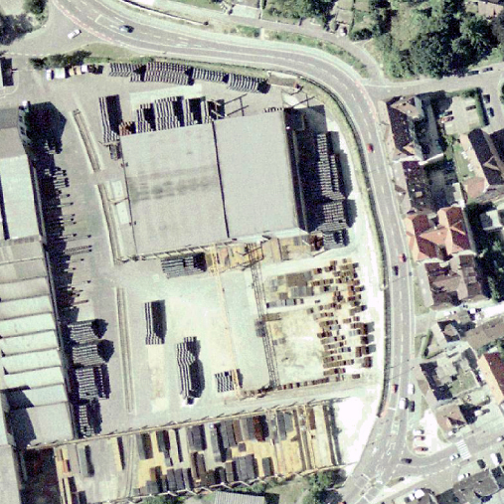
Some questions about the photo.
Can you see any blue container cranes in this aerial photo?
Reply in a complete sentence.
No, I find no blue container crane anywhere in the image.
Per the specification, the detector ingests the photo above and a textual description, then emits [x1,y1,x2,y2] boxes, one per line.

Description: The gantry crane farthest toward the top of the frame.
[212,251,256,398]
